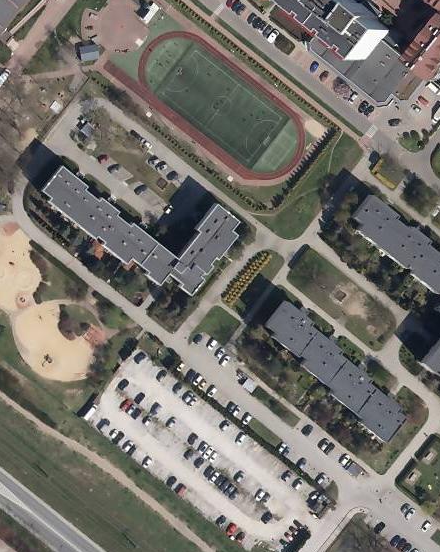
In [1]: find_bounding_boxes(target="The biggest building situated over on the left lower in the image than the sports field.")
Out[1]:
[44,166,247,294]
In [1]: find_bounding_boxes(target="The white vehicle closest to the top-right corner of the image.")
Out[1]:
[425,80,440,94]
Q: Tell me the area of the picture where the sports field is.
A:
top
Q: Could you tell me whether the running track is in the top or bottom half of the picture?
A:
top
